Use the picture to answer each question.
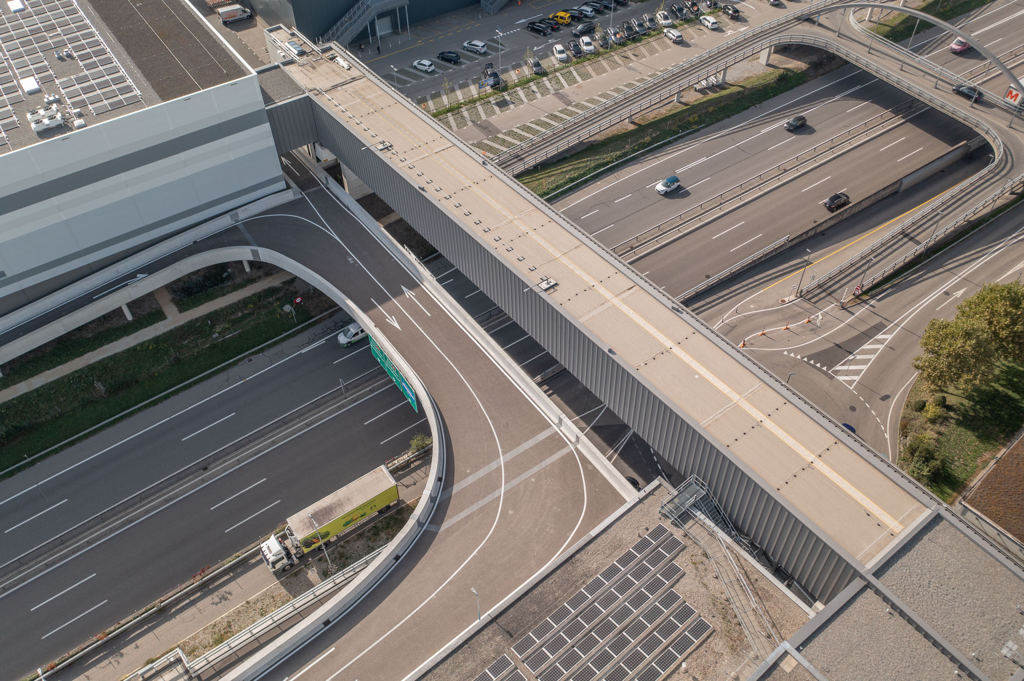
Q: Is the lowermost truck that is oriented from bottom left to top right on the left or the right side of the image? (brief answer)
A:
left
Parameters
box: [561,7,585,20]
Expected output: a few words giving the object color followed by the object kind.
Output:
black vehicle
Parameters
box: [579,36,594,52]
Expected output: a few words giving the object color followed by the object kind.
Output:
white car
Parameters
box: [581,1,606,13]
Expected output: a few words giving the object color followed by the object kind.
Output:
black vehicle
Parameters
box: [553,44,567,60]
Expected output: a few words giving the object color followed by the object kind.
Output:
white car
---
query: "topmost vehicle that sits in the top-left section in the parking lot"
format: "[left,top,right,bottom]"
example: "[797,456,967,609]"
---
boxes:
[219,6,253,26]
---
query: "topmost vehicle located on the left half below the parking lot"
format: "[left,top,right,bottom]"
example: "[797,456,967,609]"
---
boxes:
[333,323,368,349]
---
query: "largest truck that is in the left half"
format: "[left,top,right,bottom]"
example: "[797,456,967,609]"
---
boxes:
[253,466,398,580]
